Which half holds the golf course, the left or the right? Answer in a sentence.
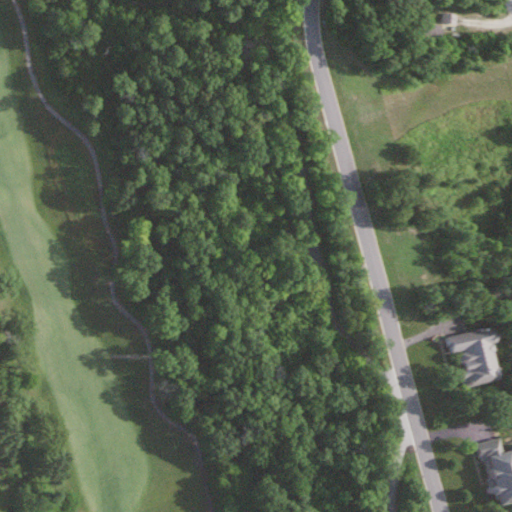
The golf course is on the left side of the image.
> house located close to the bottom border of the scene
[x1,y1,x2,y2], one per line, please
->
[478,439,512,508]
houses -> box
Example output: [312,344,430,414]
[478,439,512,508]
[446,328,503,384]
